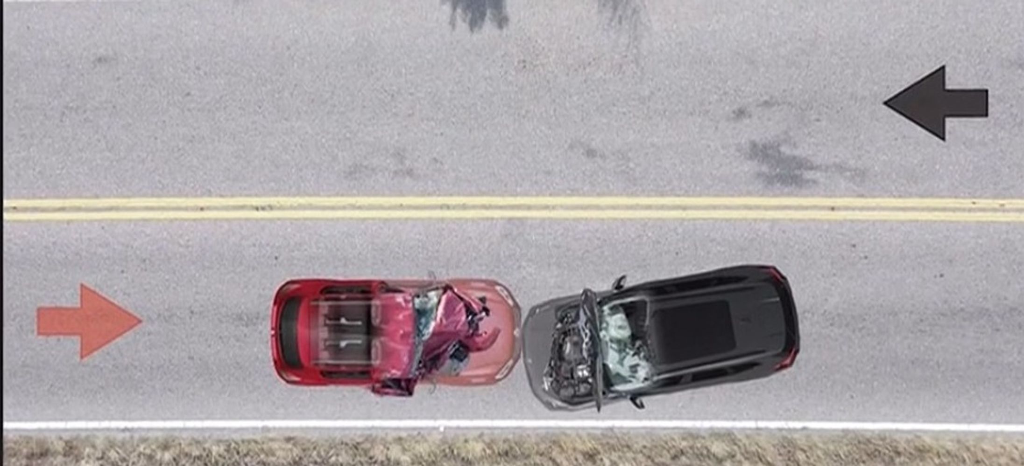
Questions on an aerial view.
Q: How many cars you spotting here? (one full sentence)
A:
The count of cars comes to 2.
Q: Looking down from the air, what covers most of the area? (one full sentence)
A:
For the most part, this view shows paved ground.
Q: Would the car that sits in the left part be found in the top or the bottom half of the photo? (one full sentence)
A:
The bottom half of the photo is where the car that sits in the left part is.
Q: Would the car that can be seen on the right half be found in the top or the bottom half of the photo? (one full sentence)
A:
You can find the car that can be seen on the right half in the bottom half.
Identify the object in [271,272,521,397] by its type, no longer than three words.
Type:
car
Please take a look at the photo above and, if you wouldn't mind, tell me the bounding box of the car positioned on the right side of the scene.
[521,265,802,414]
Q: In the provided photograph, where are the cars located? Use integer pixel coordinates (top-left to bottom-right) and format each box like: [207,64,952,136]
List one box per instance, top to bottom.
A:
[521,265,802,414]
[271,272,521,397]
